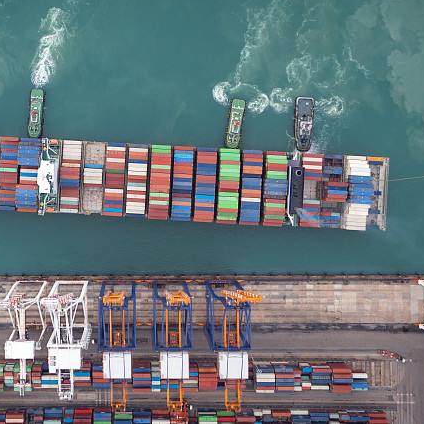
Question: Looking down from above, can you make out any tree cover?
No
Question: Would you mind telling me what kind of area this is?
port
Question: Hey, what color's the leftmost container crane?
white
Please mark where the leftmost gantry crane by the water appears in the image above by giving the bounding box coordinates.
[0,280,53,400]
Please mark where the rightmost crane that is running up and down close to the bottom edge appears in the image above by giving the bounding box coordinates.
[195,280,262,415]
